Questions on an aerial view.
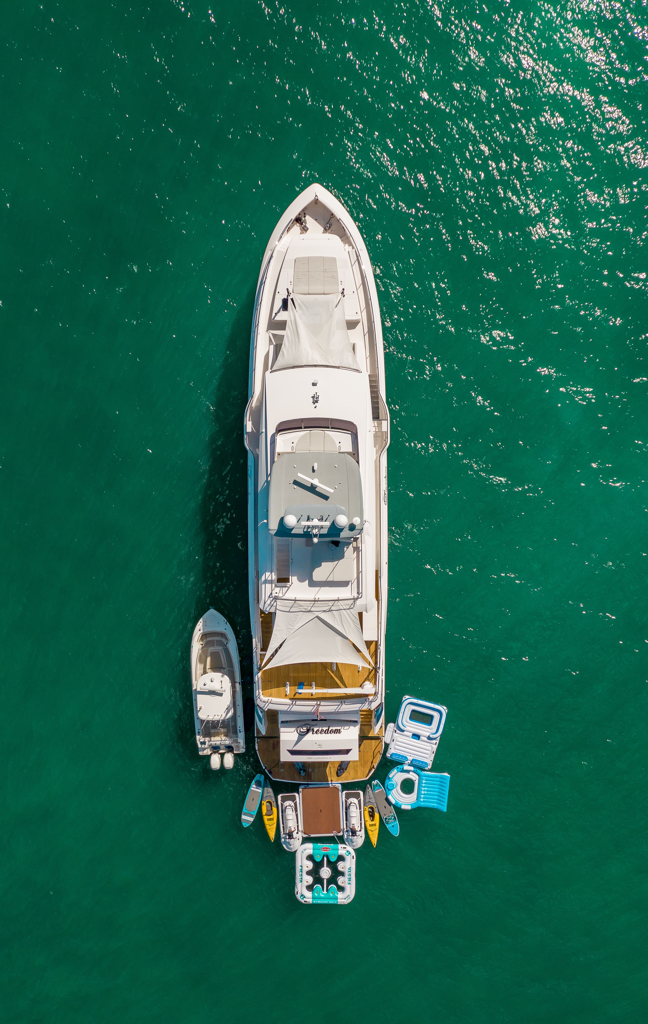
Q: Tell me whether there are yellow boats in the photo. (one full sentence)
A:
Yes, the photo shows a yellow boat.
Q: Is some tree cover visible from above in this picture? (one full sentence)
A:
No, the picture contains no tree cover.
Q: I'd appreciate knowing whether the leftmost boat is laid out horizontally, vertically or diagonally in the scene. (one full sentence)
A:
What the image shows is the leftmost boat lying vertically.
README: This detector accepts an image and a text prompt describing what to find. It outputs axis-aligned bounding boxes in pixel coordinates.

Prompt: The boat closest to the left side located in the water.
[191,609,246,776]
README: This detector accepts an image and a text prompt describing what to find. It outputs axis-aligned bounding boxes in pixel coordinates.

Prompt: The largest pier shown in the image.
[299,782,343,837]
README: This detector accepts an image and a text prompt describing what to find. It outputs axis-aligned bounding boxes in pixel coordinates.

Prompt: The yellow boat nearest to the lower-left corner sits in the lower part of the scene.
[261,780,277,844]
